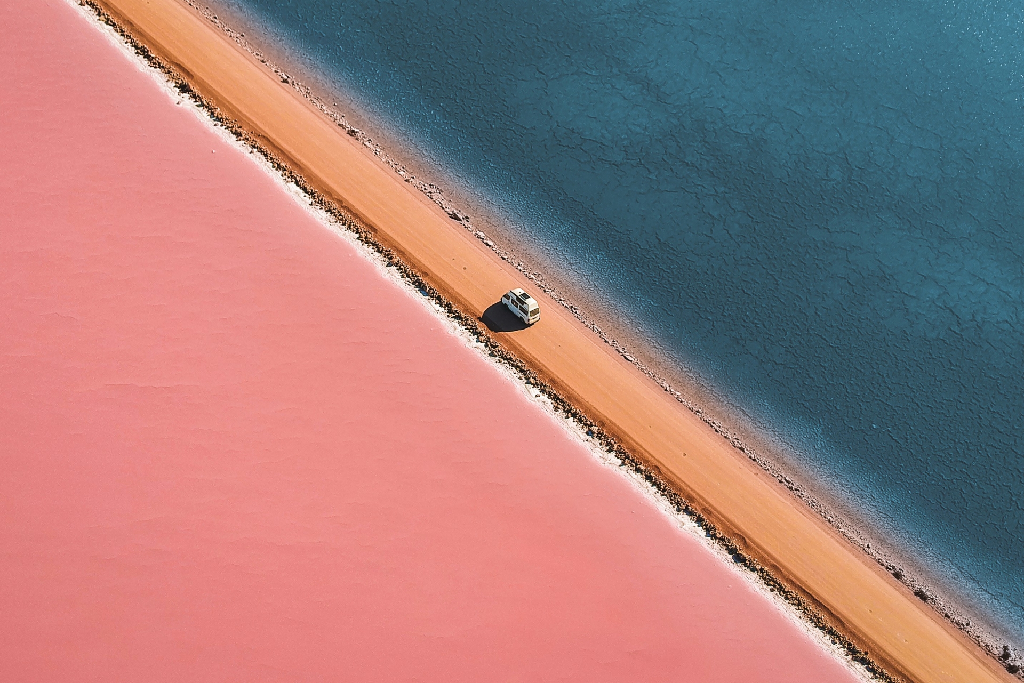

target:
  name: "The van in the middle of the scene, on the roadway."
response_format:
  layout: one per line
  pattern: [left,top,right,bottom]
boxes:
[499,286,542,325]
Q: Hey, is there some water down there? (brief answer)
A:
Yes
